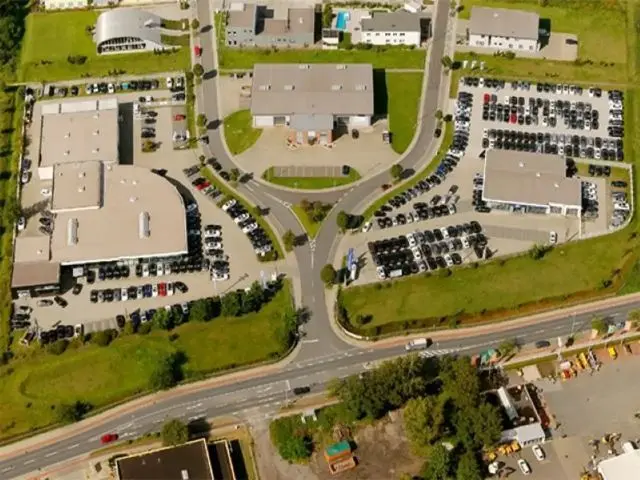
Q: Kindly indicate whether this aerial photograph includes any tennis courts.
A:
No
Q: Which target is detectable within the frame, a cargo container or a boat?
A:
cargo container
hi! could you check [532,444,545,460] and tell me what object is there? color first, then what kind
white vehicle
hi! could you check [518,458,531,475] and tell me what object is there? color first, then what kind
white vehicle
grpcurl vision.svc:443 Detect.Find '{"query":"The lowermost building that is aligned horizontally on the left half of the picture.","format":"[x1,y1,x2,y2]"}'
[115,437,216,480]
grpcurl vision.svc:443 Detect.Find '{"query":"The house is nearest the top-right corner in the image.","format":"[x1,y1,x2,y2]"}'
[468,5,541,52]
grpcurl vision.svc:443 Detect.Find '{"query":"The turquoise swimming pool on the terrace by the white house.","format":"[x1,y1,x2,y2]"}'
[334,10,351,30]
